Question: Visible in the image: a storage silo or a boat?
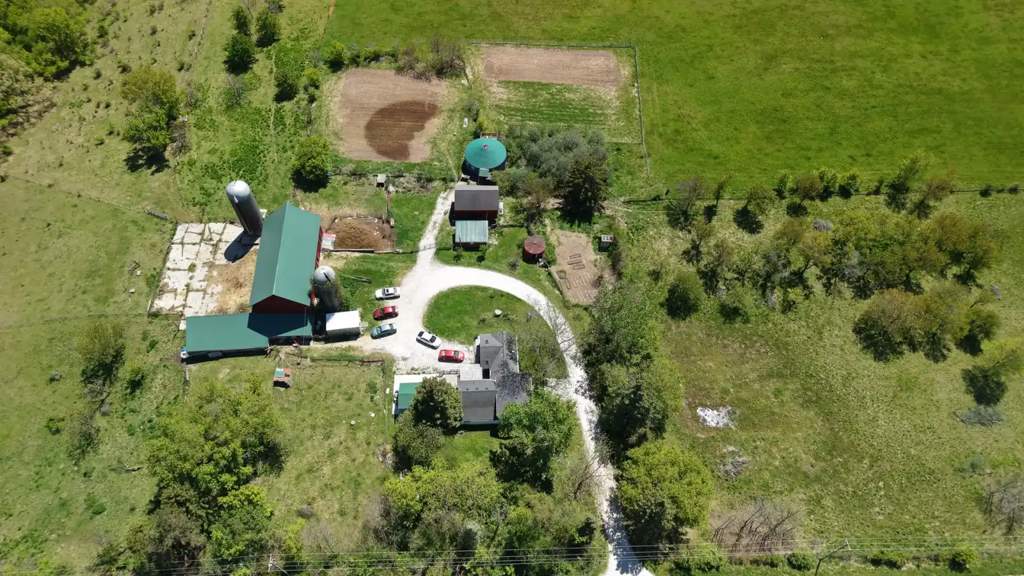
storage silo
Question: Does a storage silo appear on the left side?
Yes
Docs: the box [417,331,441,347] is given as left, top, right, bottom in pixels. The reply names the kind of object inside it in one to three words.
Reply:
car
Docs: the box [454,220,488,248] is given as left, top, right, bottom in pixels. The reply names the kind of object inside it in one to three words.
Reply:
shed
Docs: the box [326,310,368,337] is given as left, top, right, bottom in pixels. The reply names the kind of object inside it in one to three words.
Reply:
building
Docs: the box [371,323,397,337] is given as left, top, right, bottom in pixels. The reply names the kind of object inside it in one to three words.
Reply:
car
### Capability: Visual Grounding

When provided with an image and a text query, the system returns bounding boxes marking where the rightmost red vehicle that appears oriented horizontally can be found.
[439,349,465,361]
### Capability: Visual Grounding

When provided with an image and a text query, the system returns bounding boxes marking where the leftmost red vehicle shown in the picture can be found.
[373,306,398,319]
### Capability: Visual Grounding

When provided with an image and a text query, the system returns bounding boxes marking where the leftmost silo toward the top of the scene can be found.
[225,181,264,238]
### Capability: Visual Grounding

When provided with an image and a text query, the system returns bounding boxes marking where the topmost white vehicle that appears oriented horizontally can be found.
[375,288,400,301]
